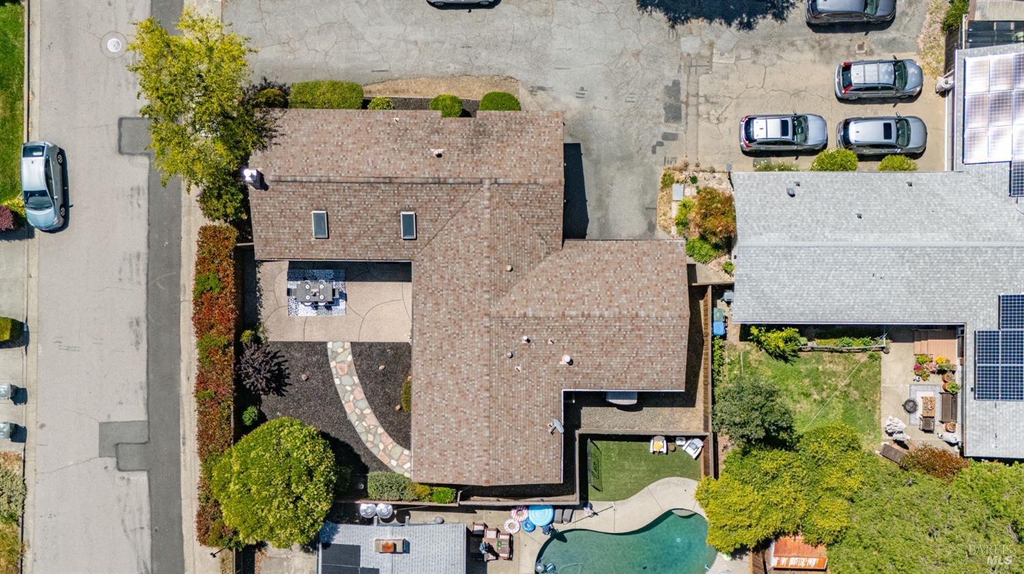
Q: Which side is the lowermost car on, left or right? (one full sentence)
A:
The lowermost car appears in the left half of the scene.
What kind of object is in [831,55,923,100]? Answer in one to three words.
car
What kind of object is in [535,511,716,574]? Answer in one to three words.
swimming pool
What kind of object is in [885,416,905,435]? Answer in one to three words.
umbrella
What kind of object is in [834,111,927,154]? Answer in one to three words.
car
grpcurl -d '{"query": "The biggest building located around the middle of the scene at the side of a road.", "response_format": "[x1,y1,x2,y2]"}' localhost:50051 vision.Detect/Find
[246,109,689,489]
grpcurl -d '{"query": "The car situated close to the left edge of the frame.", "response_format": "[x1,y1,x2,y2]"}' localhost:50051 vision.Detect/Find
[22,141,72,232]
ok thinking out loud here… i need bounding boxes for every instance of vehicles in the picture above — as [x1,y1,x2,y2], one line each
[738,109,828,153]
[803,0,895,26]
[831,55,923,100]
[834,111,927,154]
[22,141,72,232]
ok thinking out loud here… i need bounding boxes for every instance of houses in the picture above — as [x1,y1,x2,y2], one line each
[246,109,689,489]
[316,516,468,574]
[728,34,1024,460]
